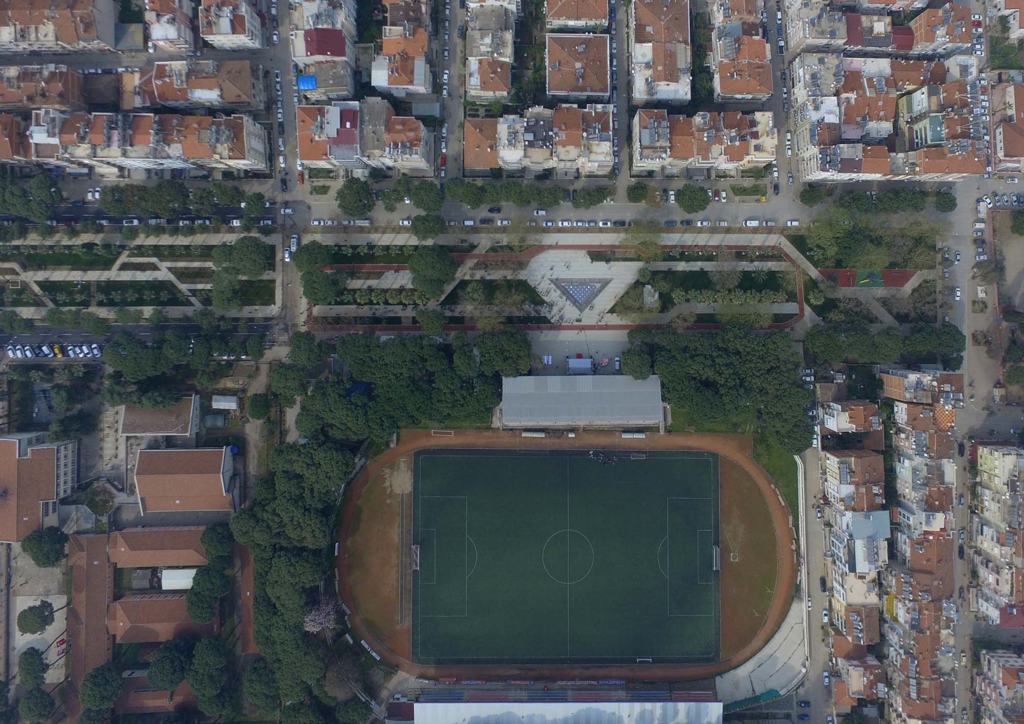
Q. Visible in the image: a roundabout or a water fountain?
water fountain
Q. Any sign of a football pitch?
Yes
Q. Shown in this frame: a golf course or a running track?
running track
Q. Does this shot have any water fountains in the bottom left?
No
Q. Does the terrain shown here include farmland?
No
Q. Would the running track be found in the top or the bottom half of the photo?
bottom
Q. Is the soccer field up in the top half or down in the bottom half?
bottom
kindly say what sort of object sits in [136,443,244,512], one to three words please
building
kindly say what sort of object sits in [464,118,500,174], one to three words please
house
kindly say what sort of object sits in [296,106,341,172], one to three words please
house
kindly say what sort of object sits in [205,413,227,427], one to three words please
shed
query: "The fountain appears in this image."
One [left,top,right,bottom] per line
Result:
[549,278,613,313]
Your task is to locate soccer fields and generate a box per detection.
[413,450,719,664]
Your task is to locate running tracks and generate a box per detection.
[336,431,797,680]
